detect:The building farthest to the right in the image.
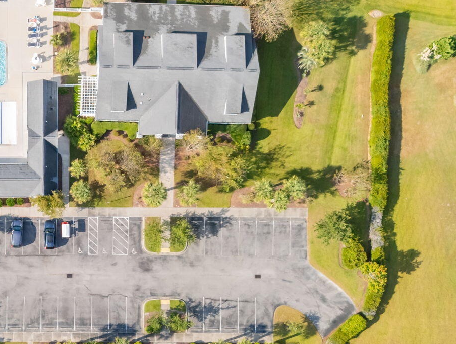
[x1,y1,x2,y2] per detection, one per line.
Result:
[95,3,259,142]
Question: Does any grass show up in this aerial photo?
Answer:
Yes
